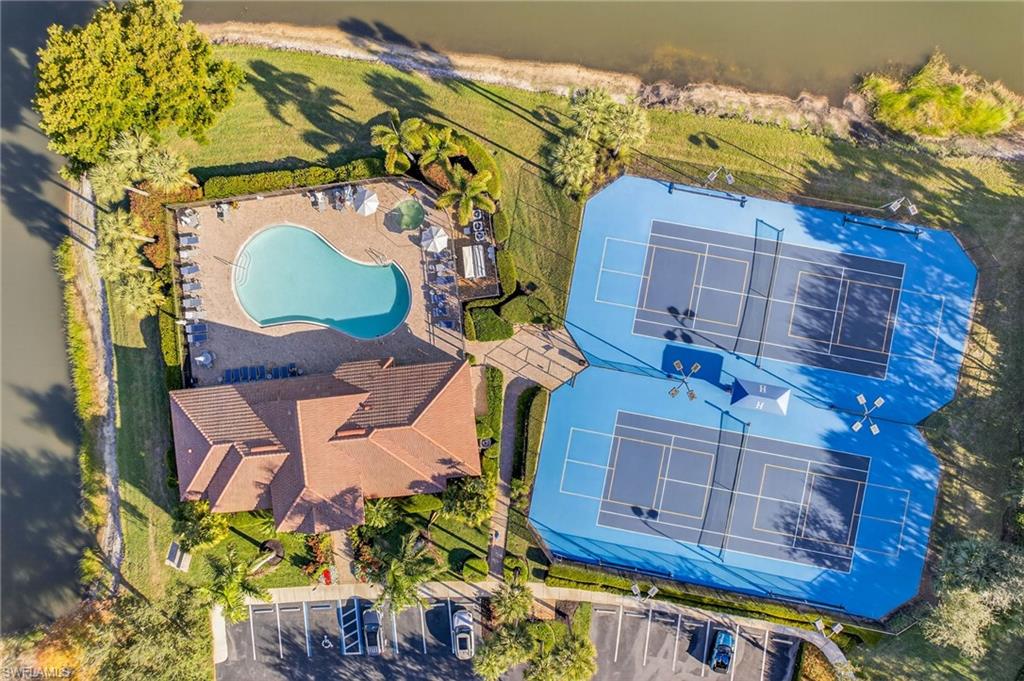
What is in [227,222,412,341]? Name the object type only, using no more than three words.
swimming pool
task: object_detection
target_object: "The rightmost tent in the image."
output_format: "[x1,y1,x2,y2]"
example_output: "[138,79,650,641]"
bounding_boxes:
[724,377,790,416]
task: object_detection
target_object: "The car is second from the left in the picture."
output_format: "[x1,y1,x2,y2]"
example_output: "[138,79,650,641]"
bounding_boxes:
[450,606,475,661]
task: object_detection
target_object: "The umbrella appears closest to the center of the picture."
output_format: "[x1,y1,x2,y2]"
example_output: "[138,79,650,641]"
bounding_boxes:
[421,225,447,251]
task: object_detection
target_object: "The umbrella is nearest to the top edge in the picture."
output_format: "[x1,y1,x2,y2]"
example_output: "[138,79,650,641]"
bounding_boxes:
[353,187,381,215]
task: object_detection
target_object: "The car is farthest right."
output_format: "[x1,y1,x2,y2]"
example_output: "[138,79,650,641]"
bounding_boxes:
[709,623,737,674]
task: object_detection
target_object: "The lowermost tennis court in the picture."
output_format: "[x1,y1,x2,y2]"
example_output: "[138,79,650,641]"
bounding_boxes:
[528,365,940,619]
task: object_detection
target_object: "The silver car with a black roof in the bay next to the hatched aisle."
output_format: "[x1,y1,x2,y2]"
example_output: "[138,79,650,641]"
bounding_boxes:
[358,606,383,657]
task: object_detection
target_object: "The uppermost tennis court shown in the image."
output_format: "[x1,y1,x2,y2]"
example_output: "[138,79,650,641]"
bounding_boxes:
[565,176,977,424]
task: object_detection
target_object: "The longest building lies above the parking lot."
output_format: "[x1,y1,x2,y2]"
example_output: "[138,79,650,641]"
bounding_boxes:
[168,359,481,538]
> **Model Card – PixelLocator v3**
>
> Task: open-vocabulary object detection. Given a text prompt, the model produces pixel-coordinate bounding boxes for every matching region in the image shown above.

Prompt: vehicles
[450,606,475,661]
[709,623,737,674]
[358,606,383,657]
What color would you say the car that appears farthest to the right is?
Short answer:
blue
